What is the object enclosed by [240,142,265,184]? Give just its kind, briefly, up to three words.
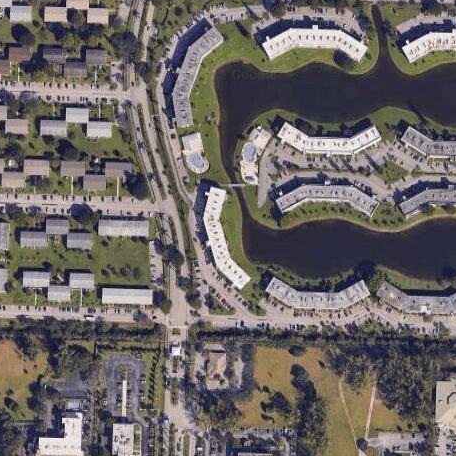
swimming pool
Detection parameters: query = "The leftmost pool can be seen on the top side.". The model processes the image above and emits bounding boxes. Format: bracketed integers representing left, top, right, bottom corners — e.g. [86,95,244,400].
[183,150,209,175]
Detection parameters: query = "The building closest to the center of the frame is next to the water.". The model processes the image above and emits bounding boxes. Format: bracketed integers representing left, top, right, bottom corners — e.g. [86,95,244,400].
[204,187,251,290]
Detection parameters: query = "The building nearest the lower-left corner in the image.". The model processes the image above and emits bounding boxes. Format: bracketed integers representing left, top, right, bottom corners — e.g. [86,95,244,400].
[36,412,83,456]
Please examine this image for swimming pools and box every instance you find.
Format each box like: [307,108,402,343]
[183,150,209,175]
[240,142,265,184]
